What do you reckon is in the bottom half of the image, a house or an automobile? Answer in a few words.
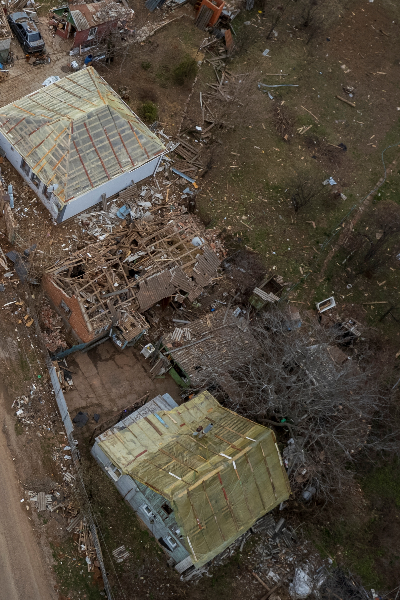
house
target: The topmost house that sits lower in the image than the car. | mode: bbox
[0,66,169,231]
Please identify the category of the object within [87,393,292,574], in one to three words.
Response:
house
